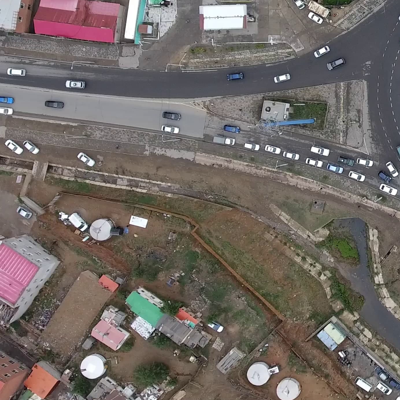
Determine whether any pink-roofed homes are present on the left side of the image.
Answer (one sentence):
Yes, looking on the left side of the image, one can make out a pink-roofed home.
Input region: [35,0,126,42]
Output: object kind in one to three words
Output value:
house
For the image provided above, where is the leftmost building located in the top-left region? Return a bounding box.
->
[0,0,36,33]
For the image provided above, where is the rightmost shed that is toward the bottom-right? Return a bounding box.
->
[318,322,349,351]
